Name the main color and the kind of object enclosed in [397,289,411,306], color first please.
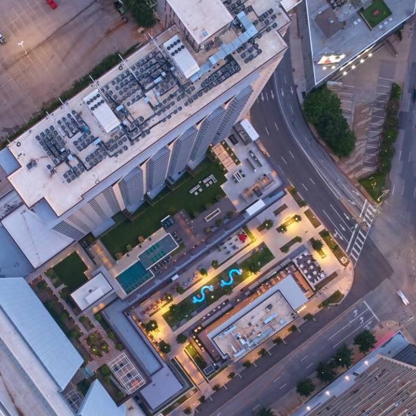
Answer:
white vehicle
